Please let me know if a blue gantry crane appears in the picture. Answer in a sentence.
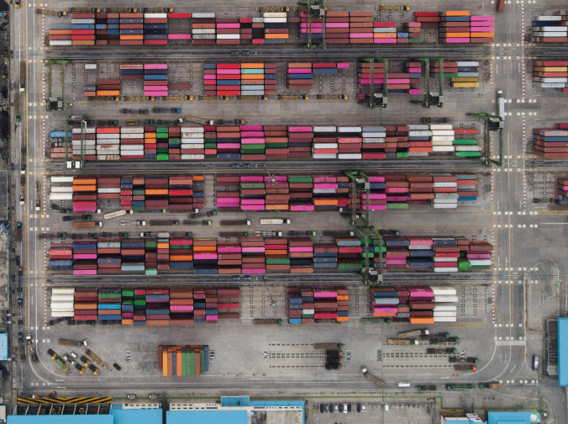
No, I find no blue gantry crane anywhere in the image.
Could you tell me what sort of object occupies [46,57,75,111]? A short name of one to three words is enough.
container crane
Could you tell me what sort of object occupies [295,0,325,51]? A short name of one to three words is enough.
container crane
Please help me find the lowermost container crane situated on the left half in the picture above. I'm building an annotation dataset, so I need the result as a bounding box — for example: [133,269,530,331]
[63,115,94,171]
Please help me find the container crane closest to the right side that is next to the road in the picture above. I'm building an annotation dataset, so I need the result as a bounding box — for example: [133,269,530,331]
[464,111,505,167]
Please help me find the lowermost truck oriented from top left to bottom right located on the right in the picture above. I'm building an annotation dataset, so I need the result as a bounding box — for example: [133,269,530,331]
[359,363,385,387]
